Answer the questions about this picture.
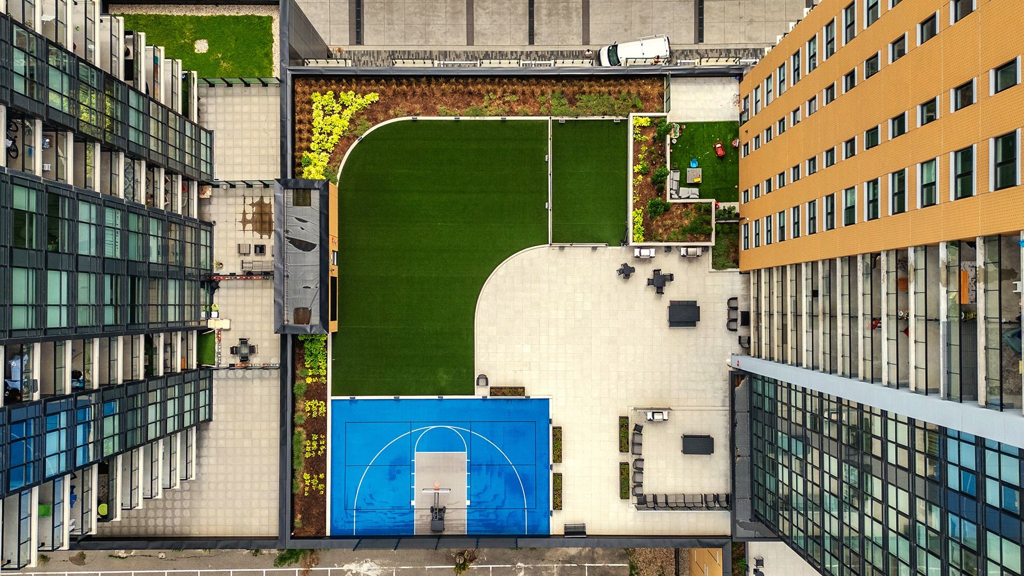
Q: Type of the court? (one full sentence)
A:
The court is a basketball court.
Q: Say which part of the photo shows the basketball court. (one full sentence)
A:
Look in the bottom portion of the view to spot the basketball court.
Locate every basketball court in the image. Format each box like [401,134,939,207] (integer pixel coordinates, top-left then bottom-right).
[331,399,550,535]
